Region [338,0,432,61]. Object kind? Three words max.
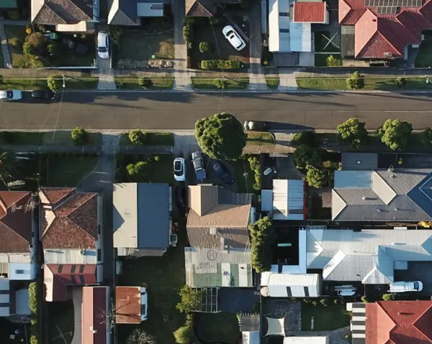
house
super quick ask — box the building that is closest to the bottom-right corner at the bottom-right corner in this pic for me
[346,300,432,344]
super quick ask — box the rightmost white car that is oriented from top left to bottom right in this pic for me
[220,23,247,52]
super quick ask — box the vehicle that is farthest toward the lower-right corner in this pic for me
[391,279,422,293]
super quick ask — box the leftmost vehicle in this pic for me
[0,88,23,102]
